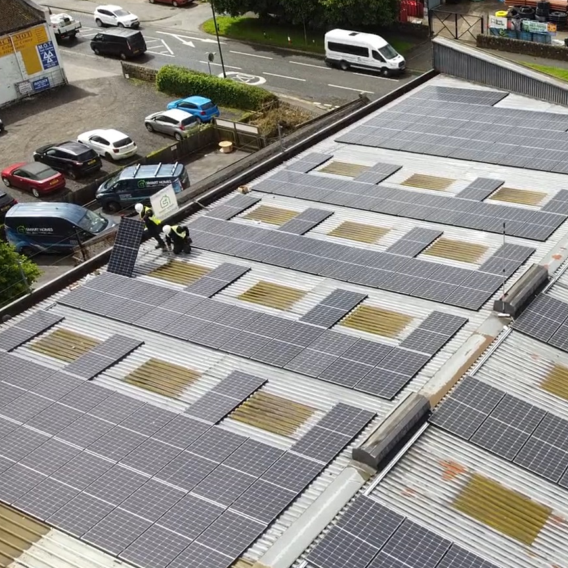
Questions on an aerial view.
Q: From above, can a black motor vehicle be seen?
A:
Yes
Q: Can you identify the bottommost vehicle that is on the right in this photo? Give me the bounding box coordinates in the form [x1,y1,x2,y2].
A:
[324,30,405,75]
